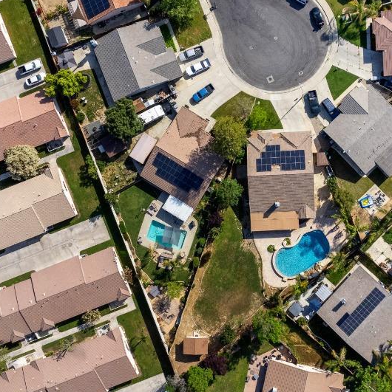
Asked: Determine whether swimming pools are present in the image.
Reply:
Yes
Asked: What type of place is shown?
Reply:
residential area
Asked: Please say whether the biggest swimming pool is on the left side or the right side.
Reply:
right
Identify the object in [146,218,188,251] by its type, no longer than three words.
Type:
swimming pool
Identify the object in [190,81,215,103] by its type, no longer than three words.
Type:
truck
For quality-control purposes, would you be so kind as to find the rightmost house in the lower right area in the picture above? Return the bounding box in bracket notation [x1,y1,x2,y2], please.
[314,263,392,364]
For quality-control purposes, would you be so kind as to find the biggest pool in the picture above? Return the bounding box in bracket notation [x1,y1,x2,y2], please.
[272,227,330,280]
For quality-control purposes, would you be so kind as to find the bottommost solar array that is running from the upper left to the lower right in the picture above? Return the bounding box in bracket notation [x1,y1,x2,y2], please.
[153,153,202,191]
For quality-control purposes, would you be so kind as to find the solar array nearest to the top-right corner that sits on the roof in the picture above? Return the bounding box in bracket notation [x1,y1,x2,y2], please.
[257,144,305,171]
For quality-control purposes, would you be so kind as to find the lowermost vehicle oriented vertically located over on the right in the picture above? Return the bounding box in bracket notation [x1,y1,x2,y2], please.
[305,88,321,116]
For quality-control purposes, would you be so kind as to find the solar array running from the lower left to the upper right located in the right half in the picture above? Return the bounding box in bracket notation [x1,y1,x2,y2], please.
[337,288,384,336]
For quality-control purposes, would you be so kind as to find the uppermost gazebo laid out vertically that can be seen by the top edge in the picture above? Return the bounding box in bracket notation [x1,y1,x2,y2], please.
[73,2,88,30]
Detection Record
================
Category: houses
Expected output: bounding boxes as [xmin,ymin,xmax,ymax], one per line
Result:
[314,263,392,364]
[0,92,76,174]
[93,23,183,101]
[0,248,136,350]
[324,82,392,179]
[0,158,78,249]
[263,358,347,392]
[373,10,392,77]
[79,0,146,24]
[247,132,315,231]
[130,105,225,221]
[0,315,139,392]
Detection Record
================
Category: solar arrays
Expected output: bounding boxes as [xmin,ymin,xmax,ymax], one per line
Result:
[337,288,384,336]
[257,144,305,171]
[153,153,202,191]
[82,0,109,18]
